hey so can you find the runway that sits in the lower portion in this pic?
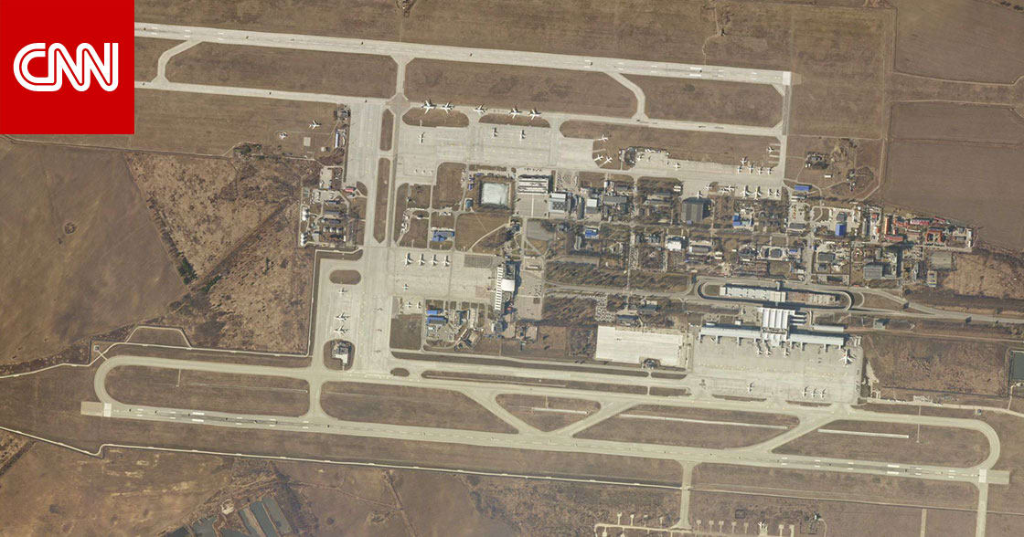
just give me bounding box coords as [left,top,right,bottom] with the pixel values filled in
[104,402,987,484]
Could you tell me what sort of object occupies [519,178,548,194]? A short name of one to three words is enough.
building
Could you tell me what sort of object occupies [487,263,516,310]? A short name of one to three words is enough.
building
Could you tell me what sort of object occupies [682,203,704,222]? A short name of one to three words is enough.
hangar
